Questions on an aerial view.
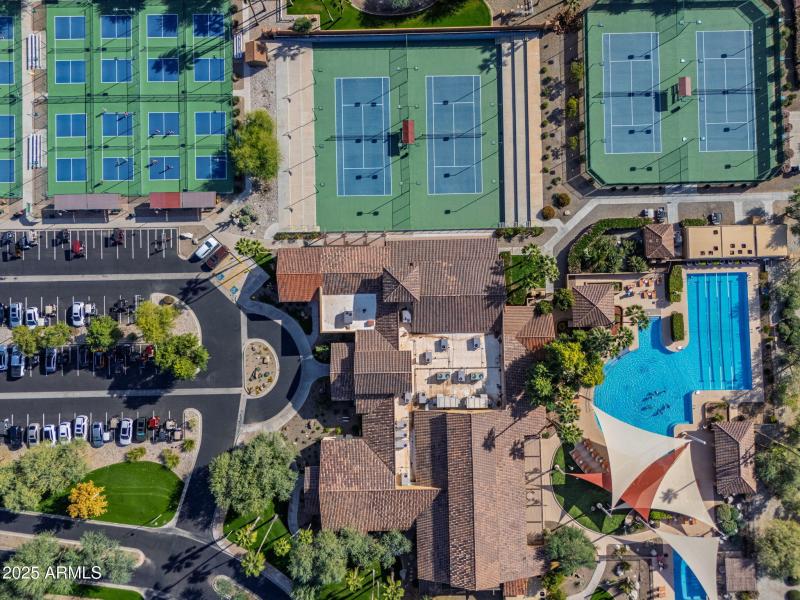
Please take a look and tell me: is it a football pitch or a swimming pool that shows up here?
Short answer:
swimming pool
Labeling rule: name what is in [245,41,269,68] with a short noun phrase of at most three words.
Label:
shed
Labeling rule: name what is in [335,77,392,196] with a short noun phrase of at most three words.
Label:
tennis court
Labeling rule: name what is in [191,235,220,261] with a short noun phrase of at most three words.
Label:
truck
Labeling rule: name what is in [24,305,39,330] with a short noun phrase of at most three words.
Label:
car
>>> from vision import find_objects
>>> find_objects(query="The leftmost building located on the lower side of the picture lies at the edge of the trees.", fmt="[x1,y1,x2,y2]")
[277,238,555,598]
